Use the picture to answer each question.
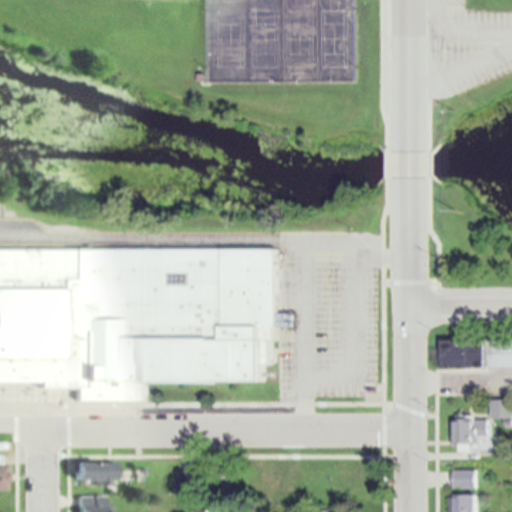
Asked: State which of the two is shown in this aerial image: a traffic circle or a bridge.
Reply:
bridge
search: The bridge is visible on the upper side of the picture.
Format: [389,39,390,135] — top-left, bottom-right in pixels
[377,144,442,187]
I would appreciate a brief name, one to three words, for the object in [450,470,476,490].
house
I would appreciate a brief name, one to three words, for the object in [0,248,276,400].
building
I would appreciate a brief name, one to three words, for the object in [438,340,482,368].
house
